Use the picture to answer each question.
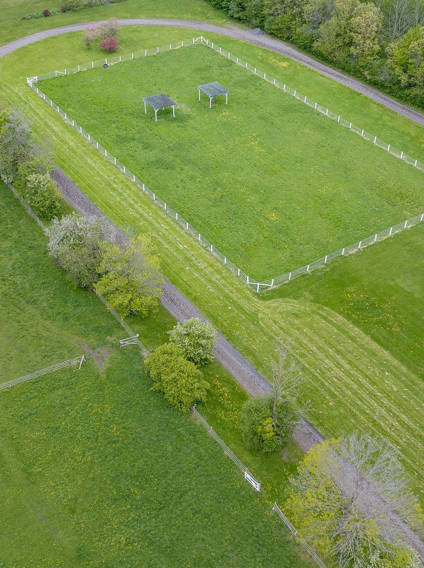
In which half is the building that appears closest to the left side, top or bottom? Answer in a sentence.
You can find the building that appears closest to the left side in the top half.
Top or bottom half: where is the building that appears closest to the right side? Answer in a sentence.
The top half of the photo is where the building that appears closest to the right side is.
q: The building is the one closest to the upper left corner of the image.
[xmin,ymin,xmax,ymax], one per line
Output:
[143,91,176,120]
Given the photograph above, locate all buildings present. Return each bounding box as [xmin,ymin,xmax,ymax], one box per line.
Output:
[198,79,230,107]
[143,91,176,120]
